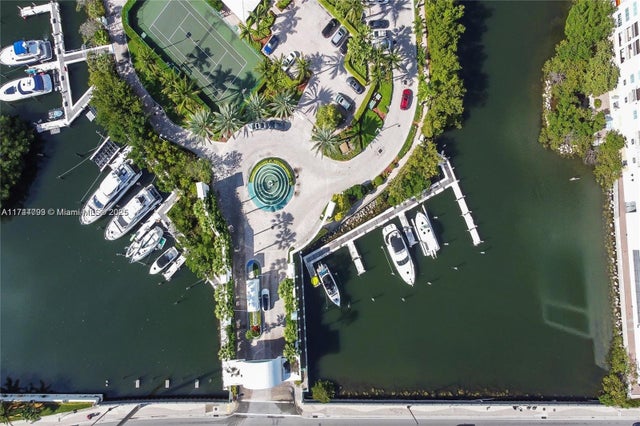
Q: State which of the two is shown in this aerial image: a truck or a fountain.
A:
fountain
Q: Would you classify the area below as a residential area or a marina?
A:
marina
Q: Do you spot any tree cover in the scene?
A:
Yes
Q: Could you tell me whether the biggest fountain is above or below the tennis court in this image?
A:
below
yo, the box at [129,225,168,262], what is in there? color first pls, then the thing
white boat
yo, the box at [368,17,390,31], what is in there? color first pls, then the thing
black vehicle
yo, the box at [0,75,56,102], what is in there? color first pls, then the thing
white boat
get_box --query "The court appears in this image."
[129,0,268,125]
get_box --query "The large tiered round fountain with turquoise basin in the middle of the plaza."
[248,156,295,212]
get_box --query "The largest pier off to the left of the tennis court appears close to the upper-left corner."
[21,2,99,133]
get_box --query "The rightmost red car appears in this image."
[399,88,414,111]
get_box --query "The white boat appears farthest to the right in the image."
[417,212,439,257]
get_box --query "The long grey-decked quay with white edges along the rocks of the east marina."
[304,155,482,284]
